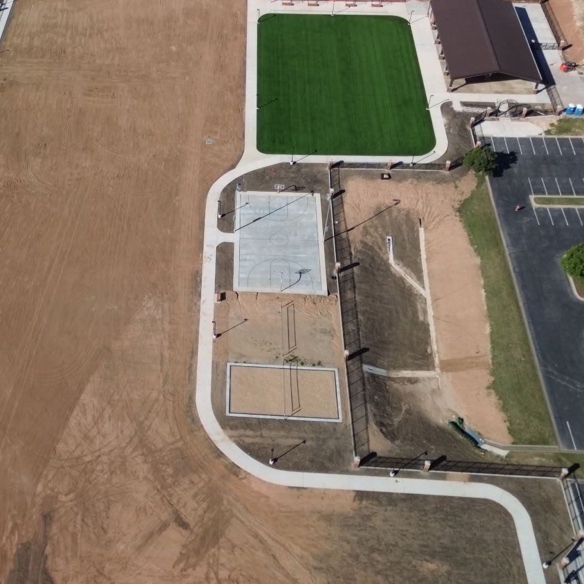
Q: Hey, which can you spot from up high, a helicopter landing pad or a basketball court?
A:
basketball court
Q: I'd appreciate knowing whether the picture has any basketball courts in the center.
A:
Yes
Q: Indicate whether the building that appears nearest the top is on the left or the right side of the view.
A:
right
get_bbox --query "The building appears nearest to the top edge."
[426,0,541,91]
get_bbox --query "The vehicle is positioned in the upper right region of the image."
[559,56,584,71]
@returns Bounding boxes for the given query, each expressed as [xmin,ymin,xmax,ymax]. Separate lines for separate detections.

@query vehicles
[559,56,584,71]
[446,417,465,429]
